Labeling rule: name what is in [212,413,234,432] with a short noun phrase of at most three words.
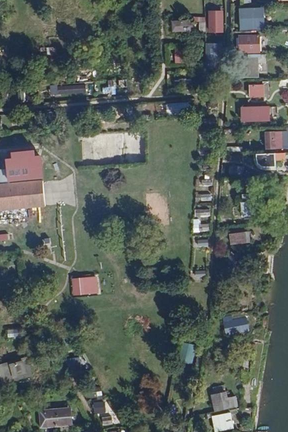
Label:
house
